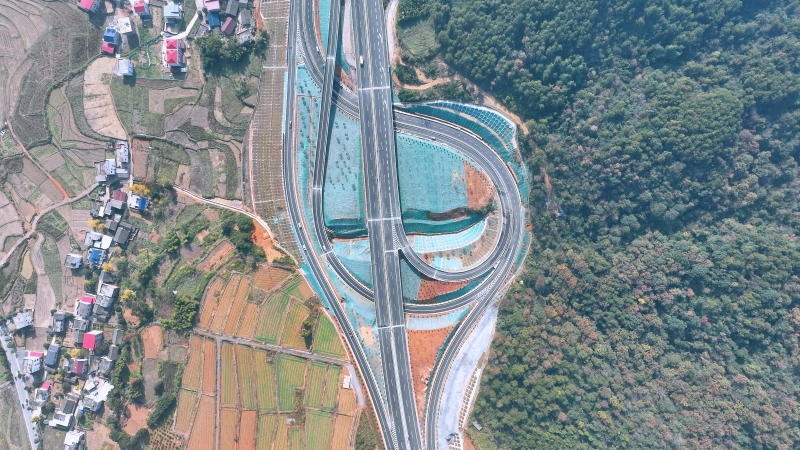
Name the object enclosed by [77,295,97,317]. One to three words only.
house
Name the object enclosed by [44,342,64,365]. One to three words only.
house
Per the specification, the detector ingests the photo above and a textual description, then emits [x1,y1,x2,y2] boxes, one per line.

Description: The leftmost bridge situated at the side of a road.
[313,0,341,252]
